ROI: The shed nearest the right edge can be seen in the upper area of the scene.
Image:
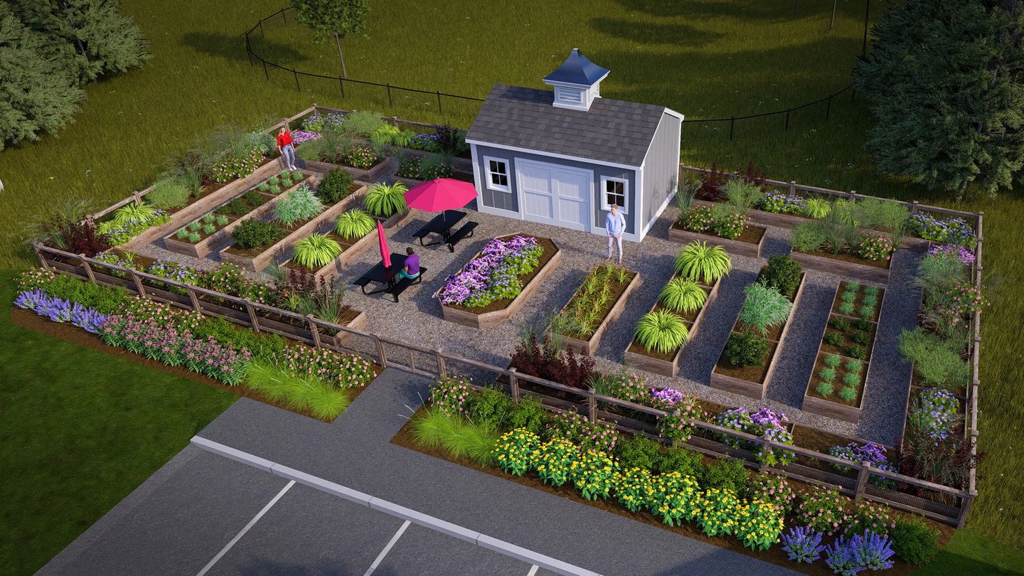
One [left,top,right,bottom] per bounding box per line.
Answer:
[463,47,685,243]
